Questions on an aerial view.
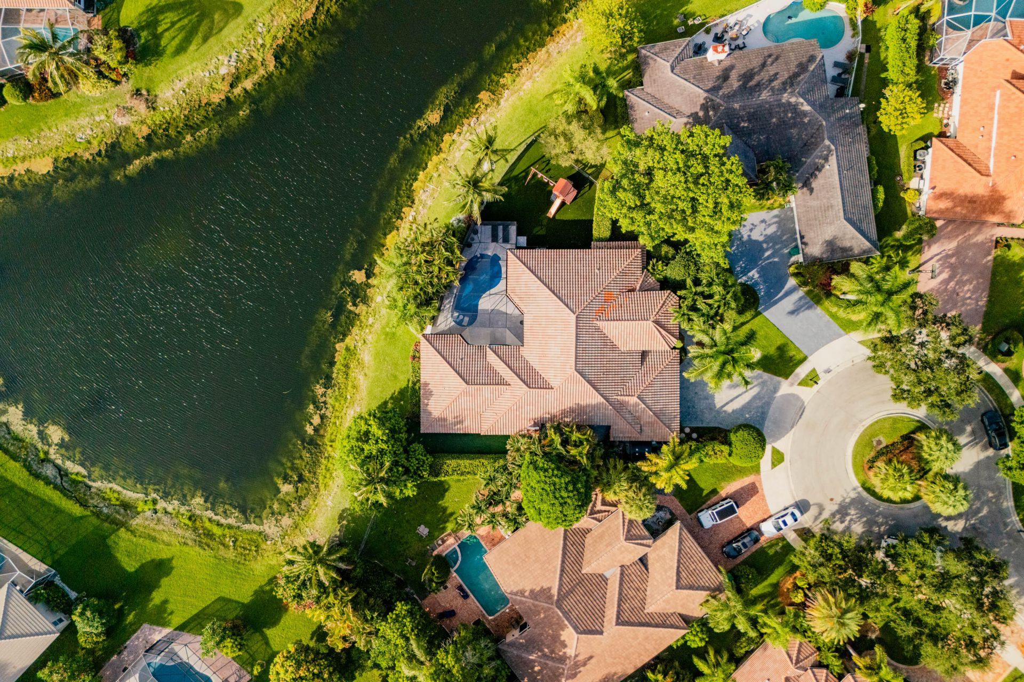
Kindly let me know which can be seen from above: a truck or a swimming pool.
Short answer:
swimming pool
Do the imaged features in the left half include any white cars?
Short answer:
No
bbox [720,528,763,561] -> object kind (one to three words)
car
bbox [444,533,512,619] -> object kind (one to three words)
swimming pool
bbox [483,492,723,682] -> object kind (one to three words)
house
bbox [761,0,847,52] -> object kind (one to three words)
swimming pool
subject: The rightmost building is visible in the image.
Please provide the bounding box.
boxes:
[917,20,1024,225]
